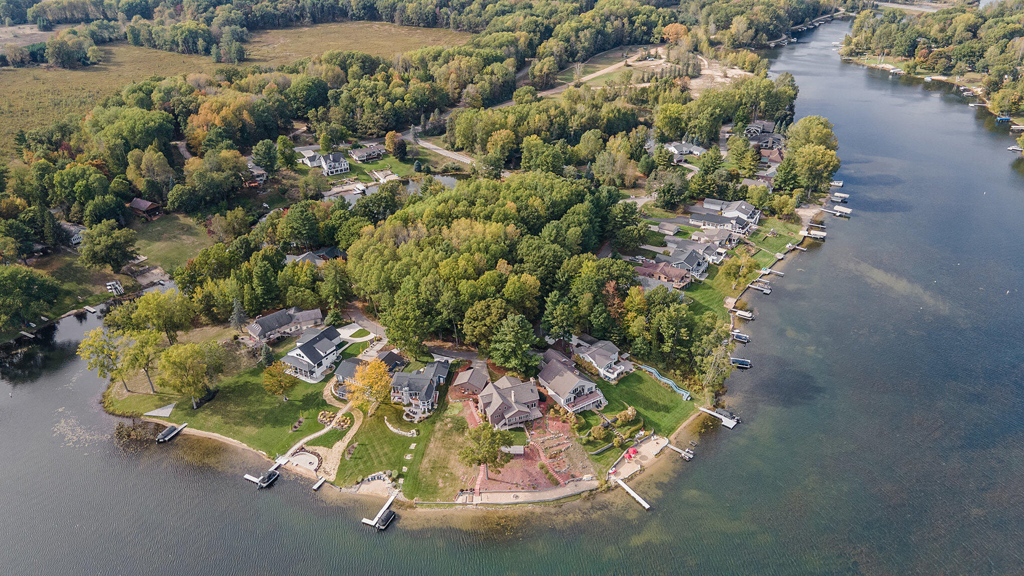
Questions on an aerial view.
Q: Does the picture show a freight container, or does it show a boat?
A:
boat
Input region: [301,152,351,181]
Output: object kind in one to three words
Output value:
house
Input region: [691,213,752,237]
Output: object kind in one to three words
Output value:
house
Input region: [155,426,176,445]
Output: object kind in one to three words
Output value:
boat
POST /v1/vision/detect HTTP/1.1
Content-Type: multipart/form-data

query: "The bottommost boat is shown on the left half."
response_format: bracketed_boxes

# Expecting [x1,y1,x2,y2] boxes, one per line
[377,510,396,529]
